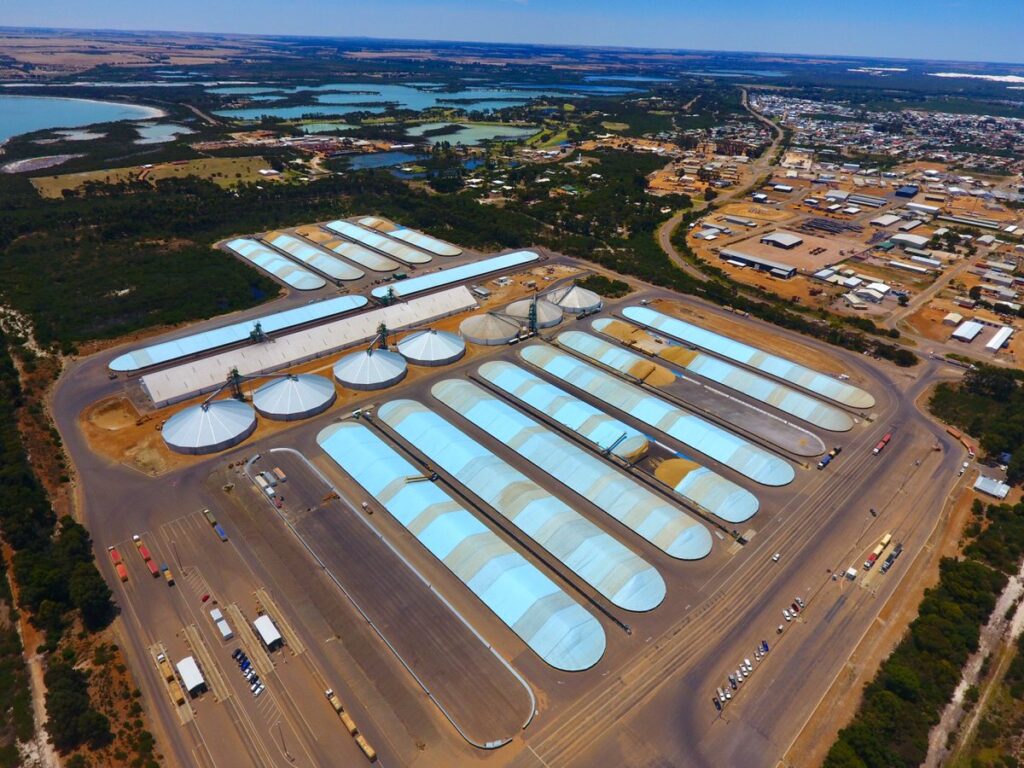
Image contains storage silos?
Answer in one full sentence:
Yes, the image includes a storage silo.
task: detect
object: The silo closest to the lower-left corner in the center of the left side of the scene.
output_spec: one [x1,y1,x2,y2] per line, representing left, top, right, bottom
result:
[159,398,255,455]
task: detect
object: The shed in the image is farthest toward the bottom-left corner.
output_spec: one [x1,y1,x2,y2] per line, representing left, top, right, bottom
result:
[175,654,207,699]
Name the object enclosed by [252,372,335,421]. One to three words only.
silo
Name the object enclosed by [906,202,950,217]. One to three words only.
shed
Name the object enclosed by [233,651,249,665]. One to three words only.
vehicle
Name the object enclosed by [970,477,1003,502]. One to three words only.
building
